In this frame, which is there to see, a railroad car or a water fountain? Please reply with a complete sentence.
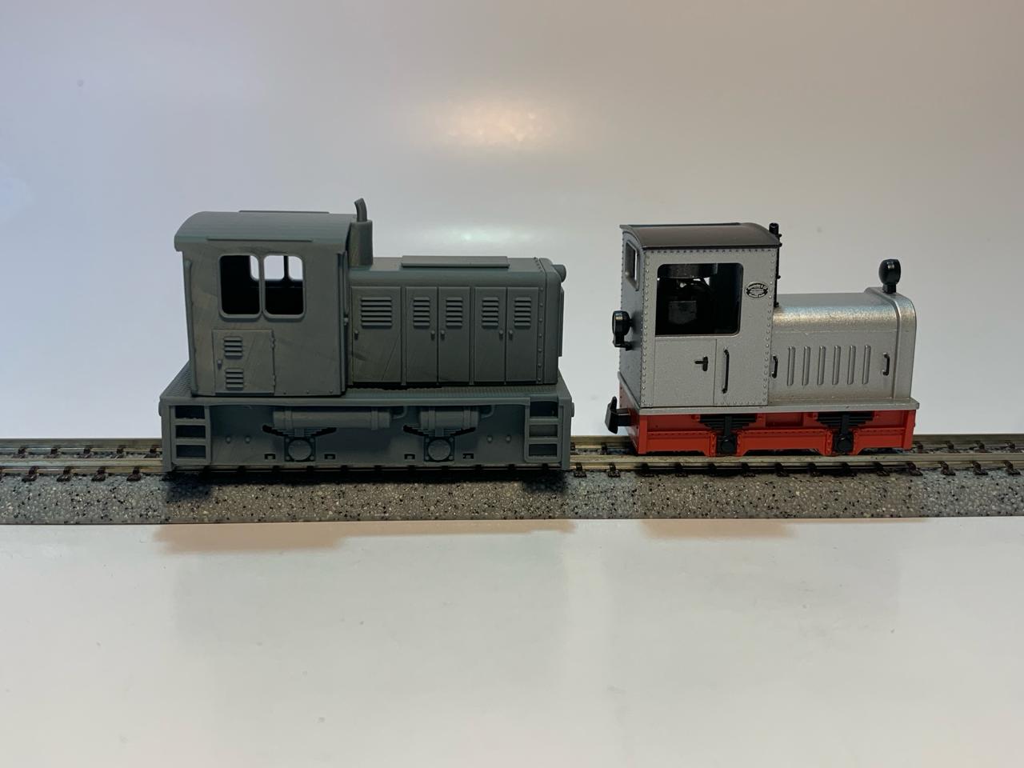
I can see a railroad car in this picture.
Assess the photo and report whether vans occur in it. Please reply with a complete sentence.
No, I find no van anywhere in the image.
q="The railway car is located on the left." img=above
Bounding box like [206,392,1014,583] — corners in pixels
[157,196,574,472]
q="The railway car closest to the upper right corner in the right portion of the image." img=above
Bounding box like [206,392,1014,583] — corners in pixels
[604,222,919,459]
